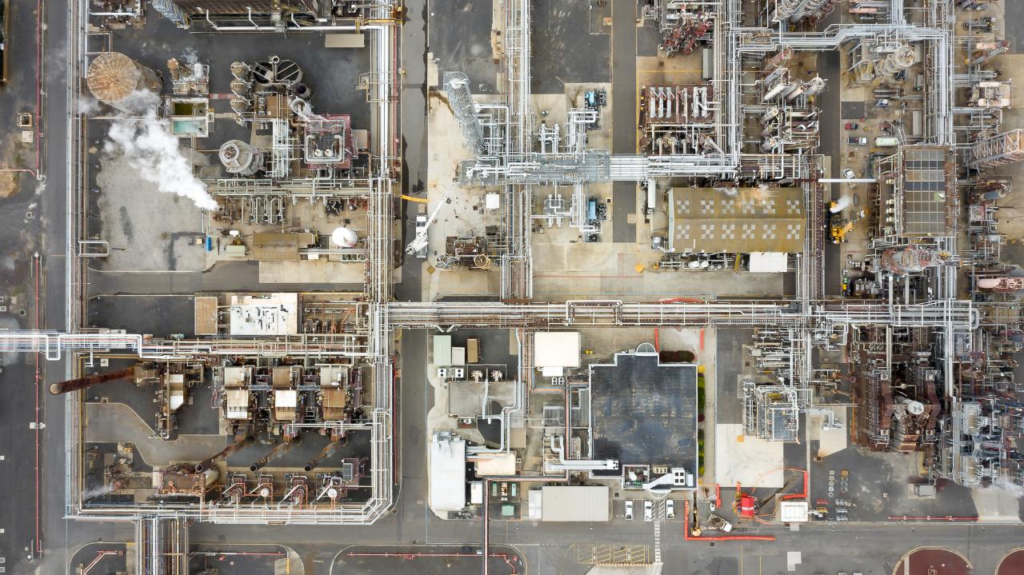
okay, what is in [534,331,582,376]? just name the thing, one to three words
building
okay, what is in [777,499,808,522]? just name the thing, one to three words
building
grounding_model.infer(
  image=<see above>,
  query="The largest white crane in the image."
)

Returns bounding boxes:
[404,197,452,258]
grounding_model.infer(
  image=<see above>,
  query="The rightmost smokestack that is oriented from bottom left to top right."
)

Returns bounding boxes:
[304,430,346,472]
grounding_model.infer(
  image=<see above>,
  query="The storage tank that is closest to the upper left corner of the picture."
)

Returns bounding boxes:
[87,53,164,115]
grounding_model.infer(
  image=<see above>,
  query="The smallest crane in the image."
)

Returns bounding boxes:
[831,212,864,241]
